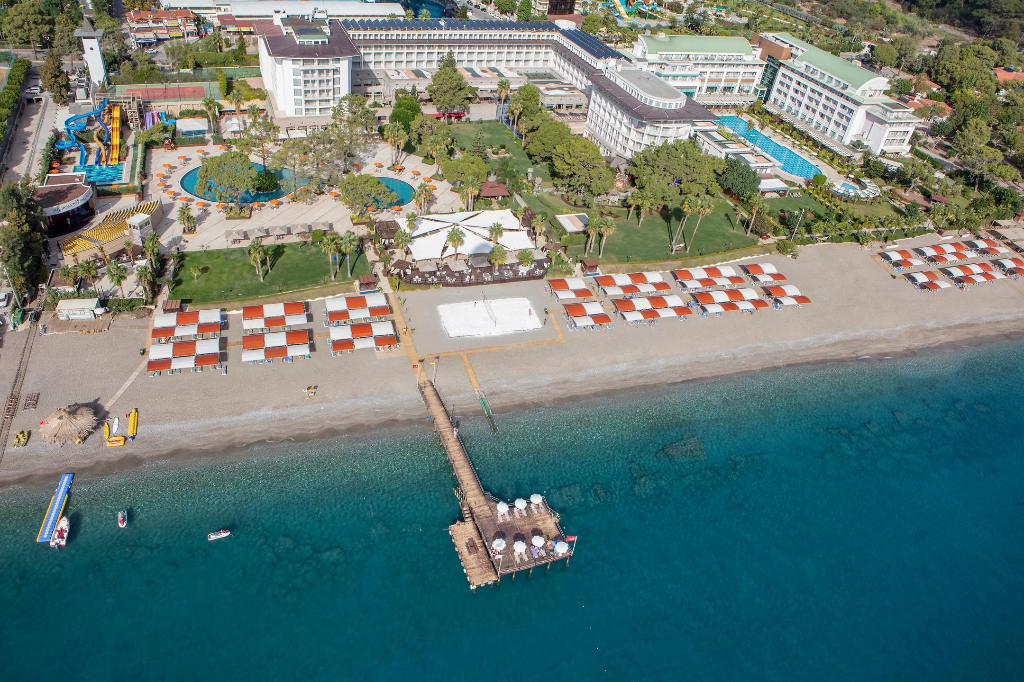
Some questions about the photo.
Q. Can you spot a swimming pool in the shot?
Yes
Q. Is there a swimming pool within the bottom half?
No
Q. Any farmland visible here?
No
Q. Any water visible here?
Yes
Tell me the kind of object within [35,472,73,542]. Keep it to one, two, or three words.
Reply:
pier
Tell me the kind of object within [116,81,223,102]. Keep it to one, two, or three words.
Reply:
tennis court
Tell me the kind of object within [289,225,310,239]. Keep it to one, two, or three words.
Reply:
umbrella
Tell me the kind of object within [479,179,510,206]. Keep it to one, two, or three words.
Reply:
shed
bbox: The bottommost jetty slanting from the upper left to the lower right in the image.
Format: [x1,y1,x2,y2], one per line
[418,376,573,581]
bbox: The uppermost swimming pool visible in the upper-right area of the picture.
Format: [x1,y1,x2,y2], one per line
[715,115,823,178]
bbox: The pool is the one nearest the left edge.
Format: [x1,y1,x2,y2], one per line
[73,162,124,184]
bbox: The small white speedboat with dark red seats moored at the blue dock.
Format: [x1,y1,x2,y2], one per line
[48,515,71,550]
